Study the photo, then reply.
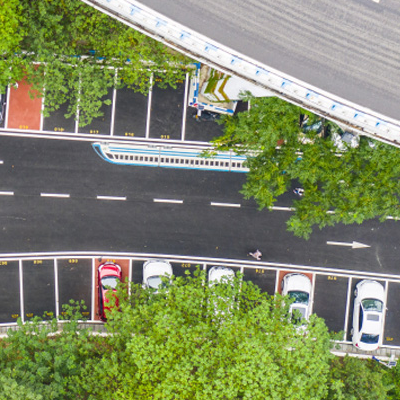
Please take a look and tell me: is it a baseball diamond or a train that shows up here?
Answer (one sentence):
It is a train that can be seen here.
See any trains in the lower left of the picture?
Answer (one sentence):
No, I see no train in the lower left of the picture.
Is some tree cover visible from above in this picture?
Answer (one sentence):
Yes, some tree cover is visible.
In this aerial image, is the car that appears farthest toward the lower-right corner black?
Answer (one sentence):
No, the car that appears farthest toward the lower-right corner is white.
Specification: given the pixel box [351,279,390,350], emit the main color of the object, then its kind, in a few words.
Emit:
white car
